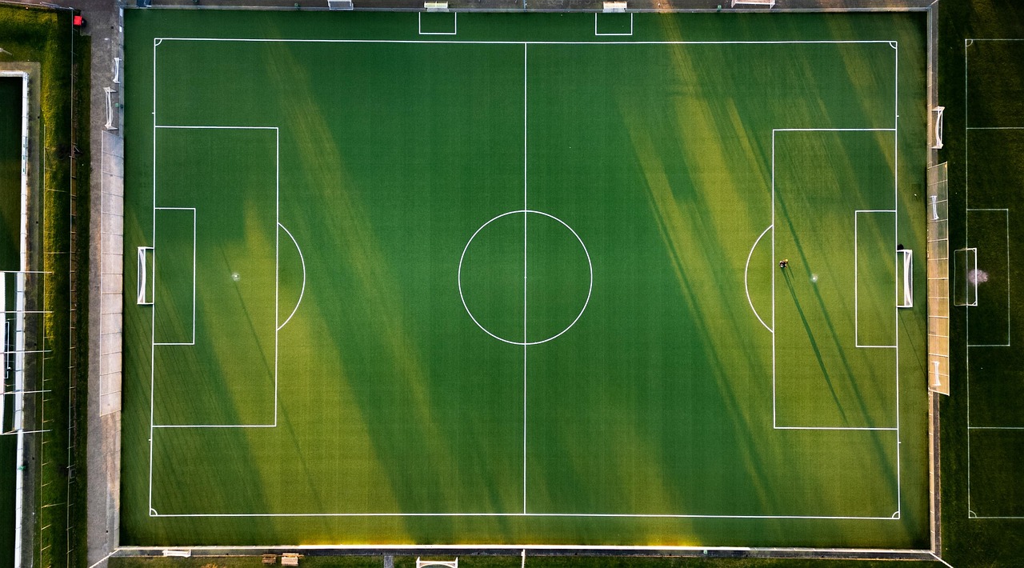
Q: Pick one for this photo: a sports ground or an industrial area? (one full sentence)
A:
The picture captures a sports ground.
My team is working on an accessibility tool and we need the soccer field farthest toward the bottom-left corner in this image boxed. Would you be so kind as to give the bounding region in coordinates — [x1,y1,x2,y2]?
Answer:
[0,77,23,568]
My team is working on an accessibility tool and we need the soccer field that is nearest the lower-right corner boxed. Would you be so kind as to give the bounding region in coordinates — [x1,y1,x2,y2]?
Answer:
[952,16,1024,552]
